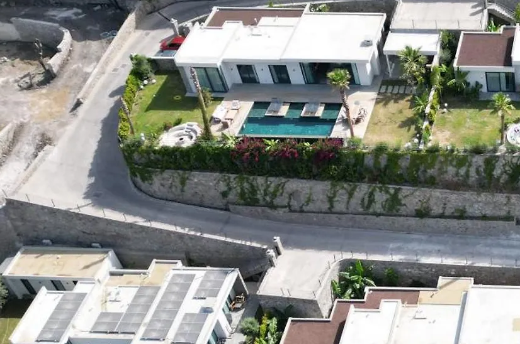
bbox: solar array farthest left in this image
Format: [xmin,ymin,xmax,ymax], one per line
[38,292,86,340]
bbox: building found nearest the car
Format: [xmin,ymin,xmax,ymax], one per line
[172,6,387,91]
